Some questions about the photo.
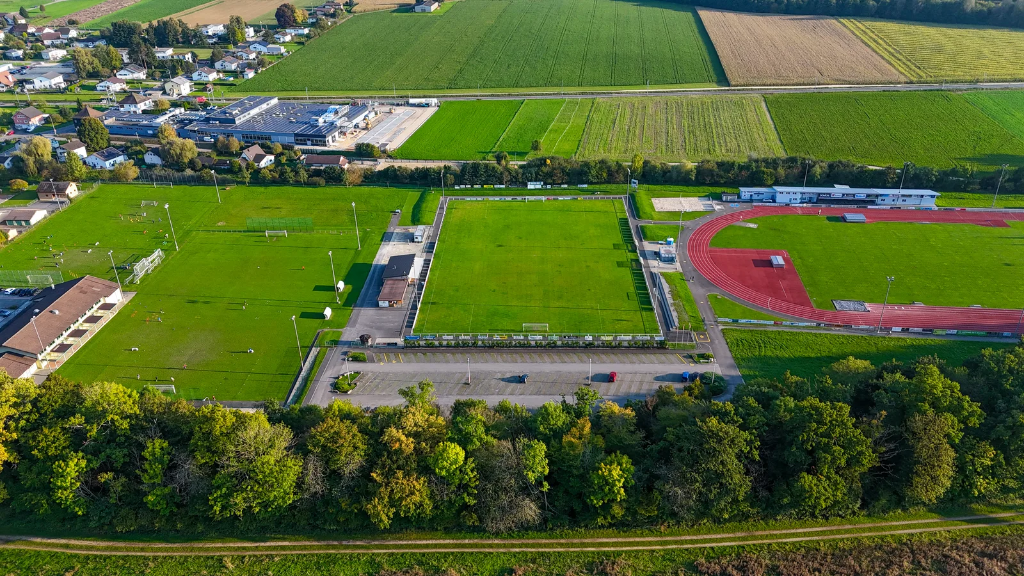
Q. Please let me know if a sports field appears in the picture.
Yes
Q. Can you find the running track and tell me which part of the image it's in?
right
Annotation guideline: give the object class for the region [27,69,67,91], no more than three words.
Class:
house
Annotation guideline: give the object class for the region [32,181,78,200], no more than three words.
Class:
house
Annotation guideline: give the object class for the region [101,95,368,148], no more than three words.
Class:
building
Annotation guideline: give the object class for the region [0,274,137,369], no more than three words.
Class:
building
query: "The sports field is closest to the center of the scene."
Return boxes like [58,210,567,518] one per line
[405,197,663,337]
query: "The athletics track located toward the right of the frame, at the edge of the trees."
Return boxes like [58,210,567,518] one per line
[686,205,1024,329]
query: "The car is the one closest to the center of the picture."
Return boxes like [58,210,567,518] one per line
[518,372,530,384]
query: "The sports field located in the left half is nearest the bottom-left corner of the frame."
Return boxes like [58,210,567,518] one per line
[0,185,422,404]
